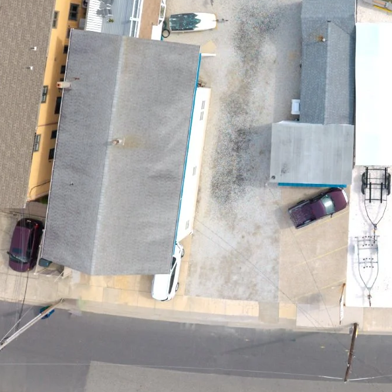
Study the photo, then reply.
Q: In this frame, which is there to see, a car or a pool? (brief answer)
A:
car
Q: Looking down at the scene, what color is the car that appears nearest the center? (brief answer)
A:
white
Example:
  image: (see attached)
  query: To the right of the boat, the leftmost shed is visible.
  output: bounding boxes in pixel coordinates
[270,0,357,191]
